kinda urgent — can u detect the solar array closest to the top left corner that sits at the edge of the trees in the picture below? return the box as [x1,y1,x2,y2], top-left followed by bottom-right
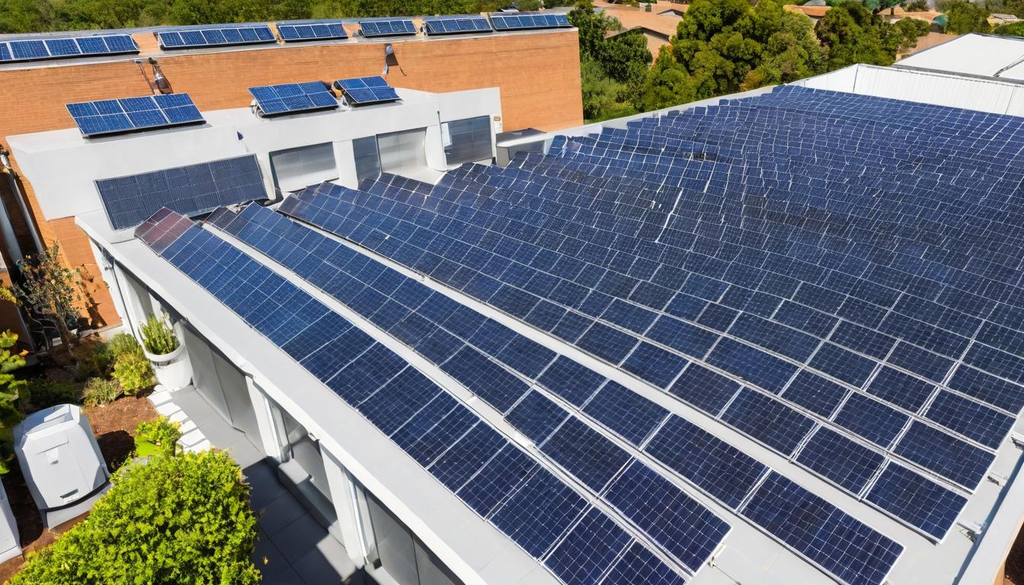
[0,35,144,64]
